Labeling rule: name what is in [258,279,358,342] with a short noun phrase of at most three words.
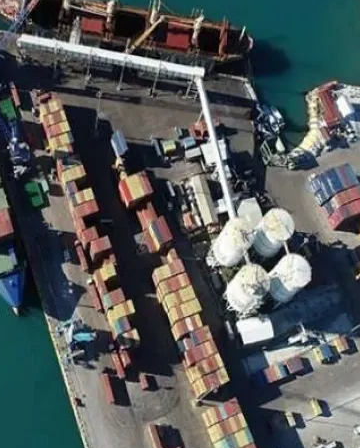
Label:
building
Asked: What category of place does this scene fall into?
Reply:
port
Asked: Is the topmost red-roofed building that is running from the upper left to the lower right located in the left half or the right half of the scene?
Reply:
right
